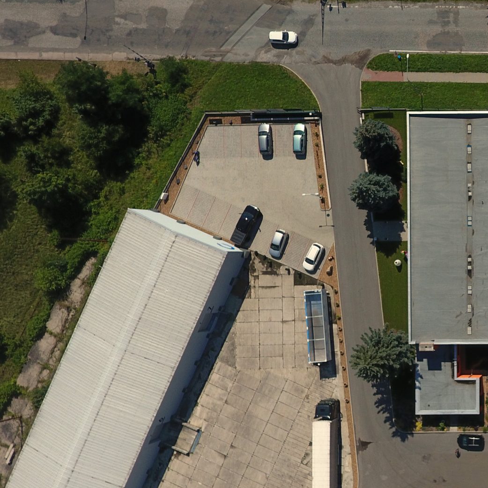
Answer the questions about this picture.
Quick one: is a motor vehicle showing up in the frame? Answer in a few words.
Yes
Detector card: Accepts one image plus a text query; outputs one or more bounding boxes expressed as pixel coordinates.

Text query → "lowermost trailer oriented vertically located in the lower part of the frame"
[312,419,338,488]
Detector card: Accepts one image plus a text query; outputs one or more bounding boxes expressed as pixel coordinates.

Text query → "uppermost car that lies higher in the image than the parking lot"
[269,30,297,46]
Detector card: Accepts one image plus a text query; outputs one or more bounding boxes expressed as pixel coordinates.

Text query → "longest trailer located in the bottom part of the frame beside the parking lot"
[304,288,332,363]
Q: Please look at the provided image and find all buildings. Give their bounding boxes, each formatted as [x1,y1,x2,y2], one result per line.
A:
[5,208,246,488]
[406,111,488,351]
